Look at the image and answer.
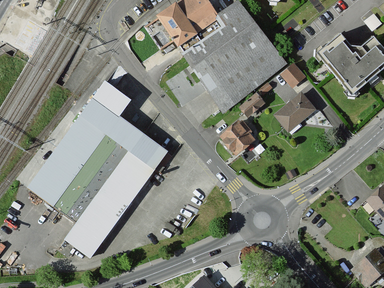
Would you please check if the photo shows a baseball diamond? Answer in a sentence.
No, no baseball diamond is visible in the view.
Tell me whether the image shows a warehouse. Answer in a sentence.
Yes, the image includes a warehouse.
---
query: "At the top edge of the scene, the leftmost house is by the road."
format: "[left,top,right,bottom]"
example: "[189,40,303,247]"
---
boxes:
[157,2,198,47]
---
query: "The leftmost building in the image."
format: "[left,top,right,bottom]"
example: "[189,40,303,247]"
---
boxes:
[27,81,168,258]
